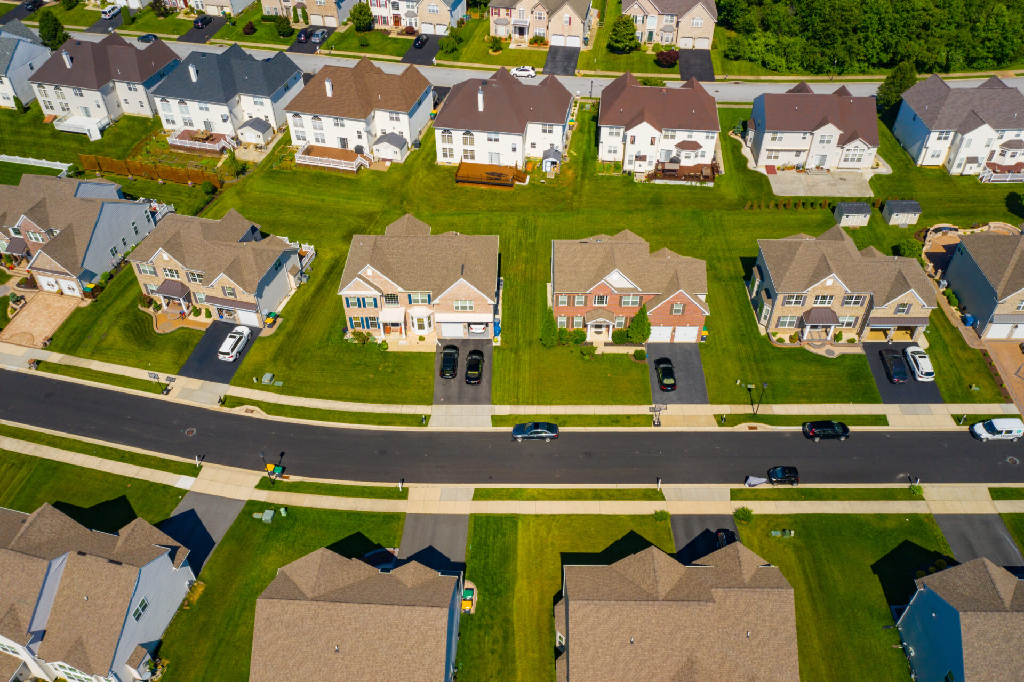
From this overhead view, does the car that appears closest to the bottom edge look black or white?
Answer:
black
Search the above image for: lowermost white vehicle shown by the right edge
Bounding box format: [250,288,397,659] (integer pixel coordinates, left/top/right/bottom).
[970,419,1024,444]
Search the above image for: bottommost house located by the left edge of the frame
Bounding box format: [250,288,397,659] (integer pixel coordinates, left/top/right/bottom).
[0,498,200,682]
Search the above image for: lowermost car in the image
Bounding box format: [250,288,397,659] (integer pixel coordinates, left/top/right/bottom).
[714,519,747,550]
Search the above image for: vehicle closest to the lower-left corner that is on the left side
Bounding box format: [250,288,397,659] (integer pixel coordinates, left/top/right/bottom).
[218,327,251,361]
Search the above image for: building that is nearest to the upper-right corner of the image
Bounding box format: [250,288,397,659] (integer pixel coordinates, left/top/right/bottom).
[892,73,1024,175]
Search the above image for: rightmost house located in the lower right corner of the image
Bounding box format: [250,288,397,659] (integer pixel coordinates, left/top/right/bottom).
[895,551,1024,682]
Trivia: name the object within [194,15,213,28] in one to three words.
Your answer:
vehicle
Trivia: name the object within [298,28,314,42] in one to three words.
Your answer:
car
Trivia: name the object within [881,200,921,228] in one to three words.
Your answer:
shed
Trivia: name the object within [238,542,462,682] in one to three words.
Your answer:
house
